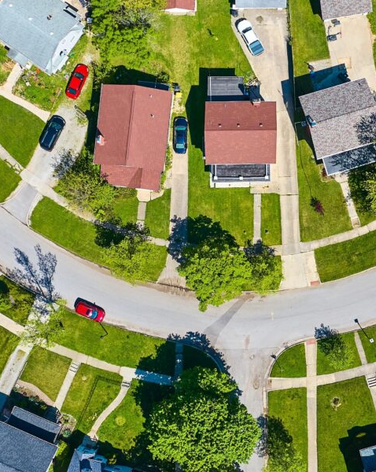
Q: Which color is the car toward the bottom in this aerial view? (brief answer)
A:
red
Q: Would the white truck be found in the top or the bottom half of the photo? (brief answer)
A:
top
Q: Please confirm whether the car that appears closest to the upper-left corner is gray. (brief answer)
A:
No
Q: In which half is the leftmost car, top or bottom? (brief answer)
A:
top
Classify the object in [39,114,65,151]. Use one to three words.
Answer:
car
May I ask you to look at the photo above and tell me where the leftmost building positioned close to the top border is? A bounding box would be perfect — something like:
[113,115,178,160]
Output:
[0,0,86,72]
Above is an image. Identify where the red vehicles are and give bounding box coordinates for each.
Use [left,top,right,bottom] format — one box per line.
[64,64,88,100]
[73,299,107,321]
